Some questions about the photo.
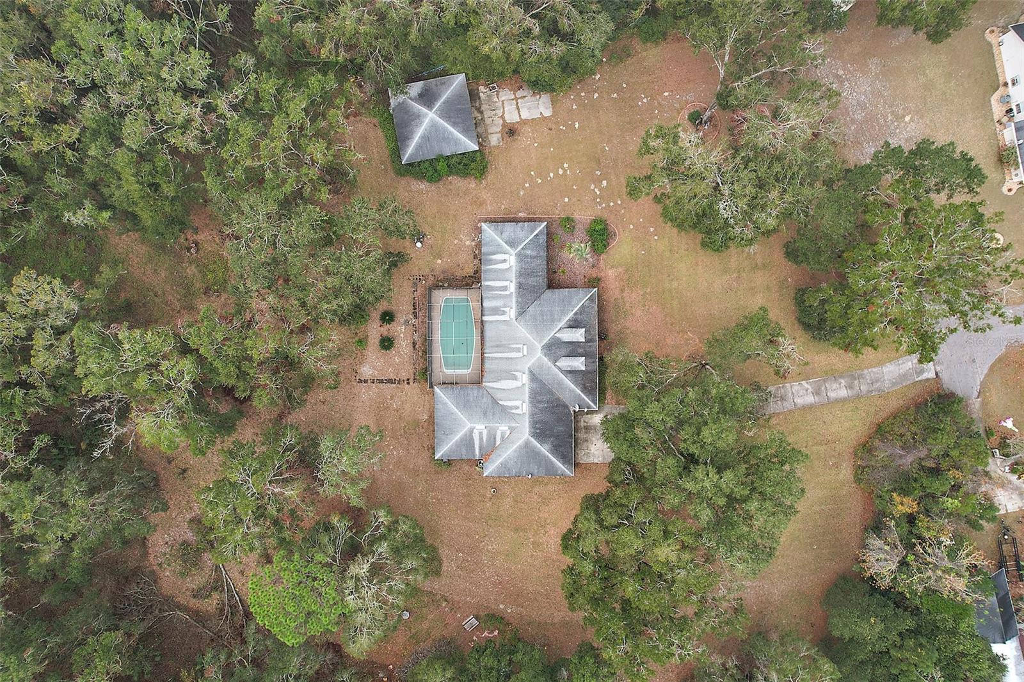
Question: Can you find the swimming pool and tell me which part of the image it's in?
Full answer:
The swimming pool appears toward the center of the photo.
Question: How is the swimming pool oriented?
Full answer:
The swimming pool is laid out from top to bottom.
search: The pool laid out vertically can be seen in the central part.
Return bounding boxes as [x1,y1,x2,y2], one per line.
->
[437,293,476,375]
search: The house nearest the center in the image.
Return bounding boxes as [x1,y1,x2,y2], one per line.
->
[435,222,599,477]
